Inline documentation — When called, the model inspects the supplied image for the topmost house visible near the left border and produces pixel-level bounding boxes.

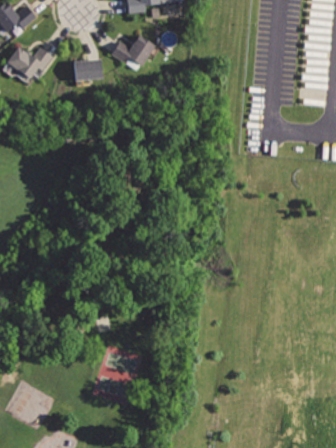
[0,0,38,35]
